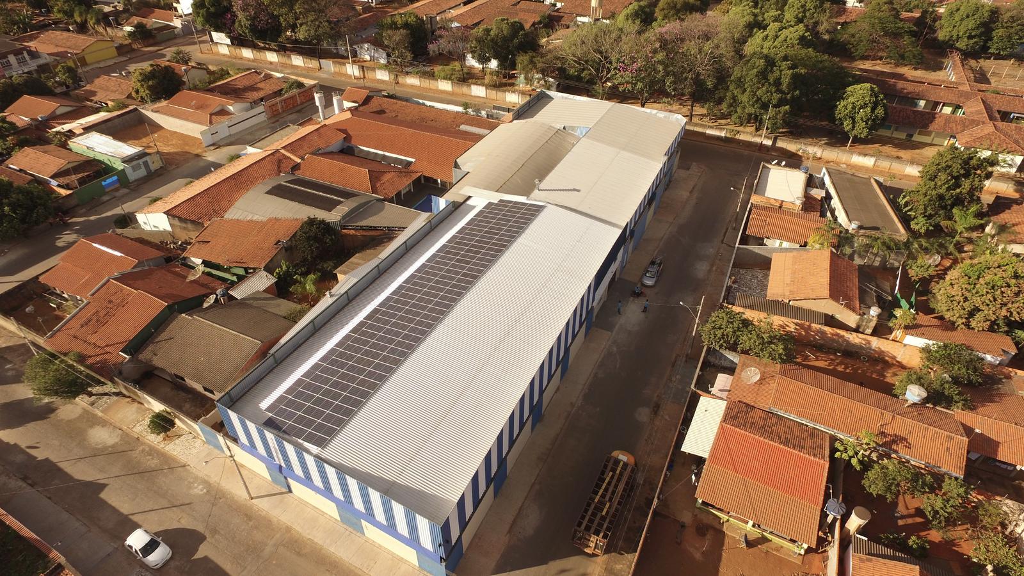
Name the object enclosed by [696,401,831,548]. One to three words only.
house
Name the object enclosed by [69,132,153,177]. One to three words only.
building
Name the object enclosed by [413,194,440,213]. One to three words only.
swimming pool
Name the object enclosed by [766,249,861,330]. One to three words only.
house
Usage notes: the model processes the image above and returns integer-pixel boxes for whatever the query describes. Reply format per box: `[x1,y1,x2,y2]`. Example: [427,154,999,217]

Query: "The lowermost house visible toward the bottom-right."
[841,534,944,576]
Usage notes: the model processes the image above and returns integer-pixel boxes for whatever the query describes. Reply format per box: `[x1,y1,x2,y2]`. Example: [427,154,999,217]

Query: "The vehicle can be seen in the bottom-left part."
[117,521,171,570]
